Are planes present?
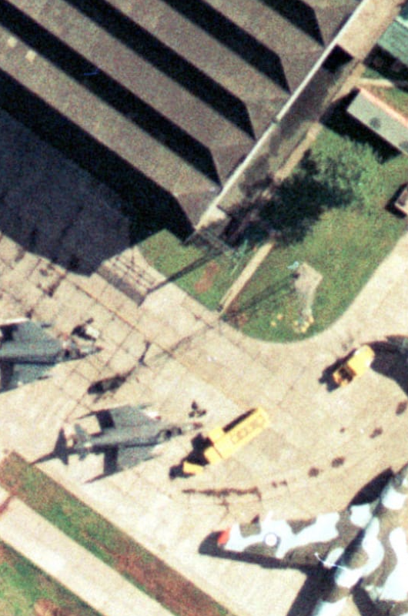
Yes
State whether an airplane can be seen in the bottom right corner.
Yes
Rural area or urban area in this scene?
urban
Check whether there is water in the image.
No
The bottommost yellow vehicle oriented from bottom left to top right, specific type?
truck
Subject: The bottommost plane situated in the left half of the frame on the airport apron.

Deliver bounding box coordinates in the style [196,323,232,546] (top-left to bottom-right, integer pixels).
[78,409,203,476]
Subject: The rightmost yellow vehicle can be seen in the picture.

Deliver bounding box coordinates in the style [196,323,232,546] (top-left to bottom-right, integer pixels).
[335,345,374,384]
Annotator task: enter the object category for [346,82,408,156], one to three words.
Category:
shed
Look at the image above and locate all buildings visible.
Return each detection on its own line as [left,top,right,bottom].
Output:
[346,82,408,156]
[378,10,408,66]
[0,0,365,241]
